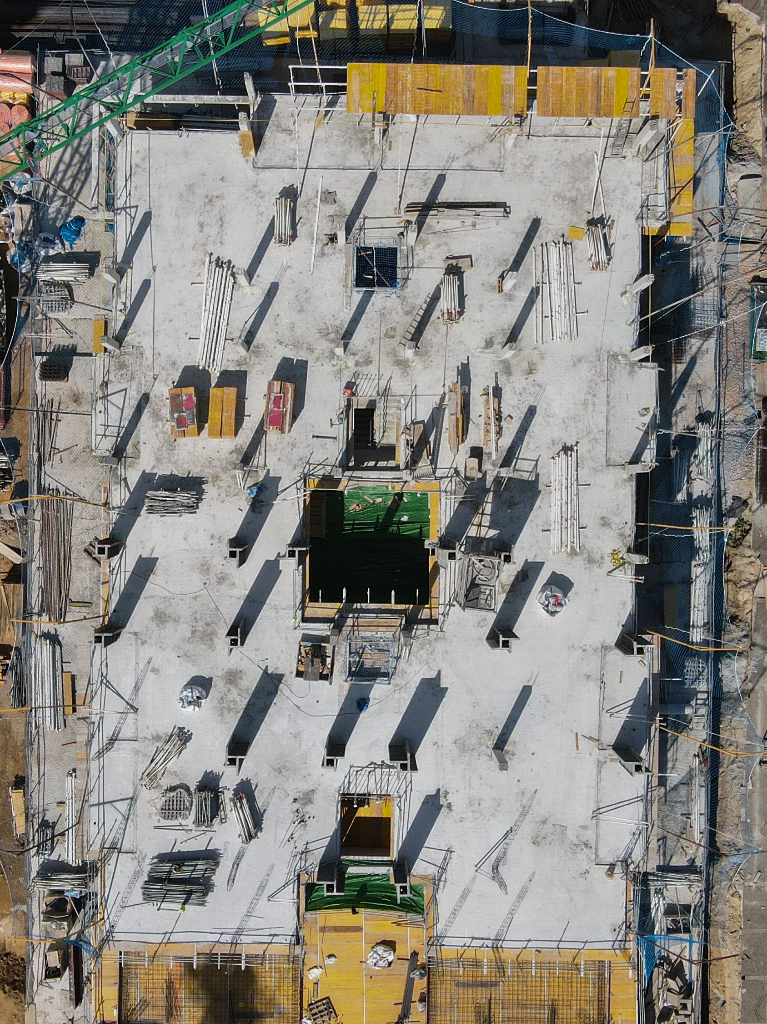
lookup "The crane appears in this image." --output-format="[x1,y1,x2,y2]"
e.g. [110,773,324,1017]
[0,0,321,183]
